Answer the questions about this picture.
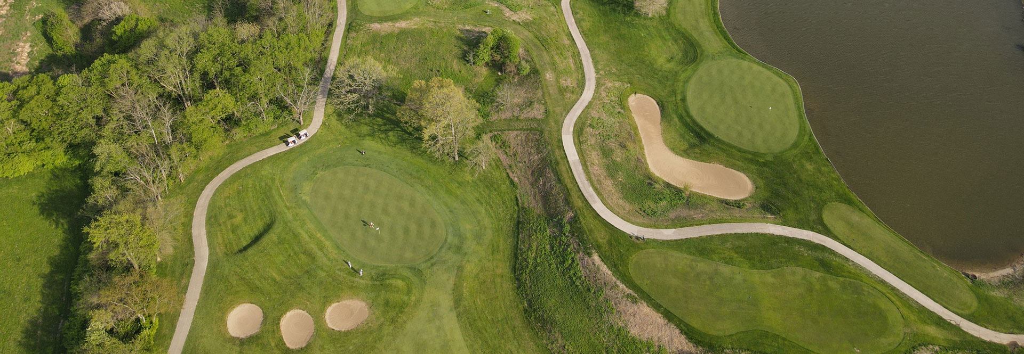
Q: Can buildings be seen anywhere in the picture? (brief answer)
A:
No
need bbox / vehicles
[297,129,309,141]
[284,136,297,148]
